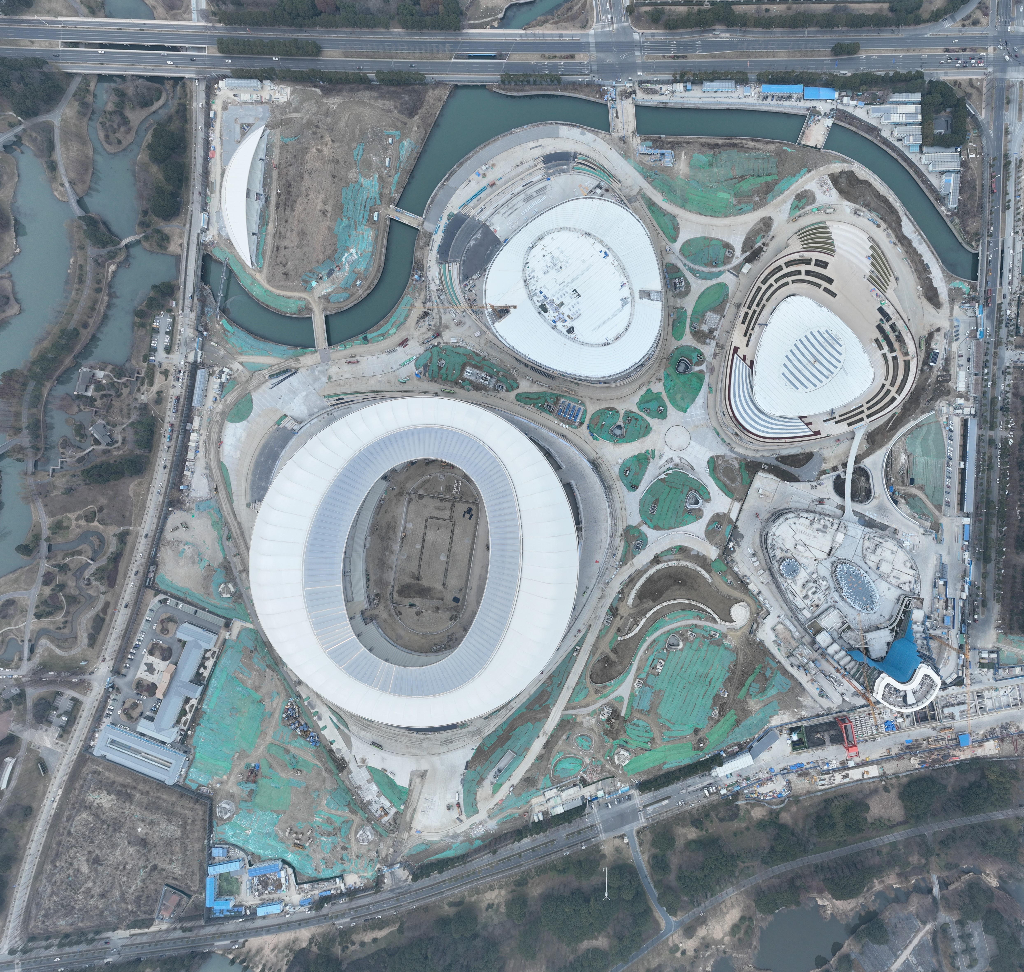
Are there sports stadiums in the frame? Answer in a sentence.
Yes, looking at the shot, I can spot a sports stadium.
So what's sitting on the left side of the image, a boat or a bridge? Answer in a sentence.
What appears on the left side of the image is a bridge.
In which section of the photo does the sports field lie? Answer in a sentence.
Look in the center portion of the view to spot the sports field.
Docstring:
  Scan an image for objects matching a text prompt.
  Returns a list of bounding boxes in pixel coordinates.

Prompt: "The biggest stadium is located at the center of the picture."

[249,396,579,728]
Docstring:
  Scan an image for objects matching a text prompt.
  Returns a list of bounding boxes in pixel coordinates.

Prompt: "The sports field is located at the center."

[367,459,489,653]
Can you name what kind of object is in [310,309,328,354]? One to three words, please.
bridge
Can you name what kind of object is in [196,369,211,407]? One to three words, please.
building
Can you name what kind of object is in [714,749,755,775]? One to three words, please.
shed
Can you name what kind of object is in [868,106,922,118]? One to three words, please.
building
